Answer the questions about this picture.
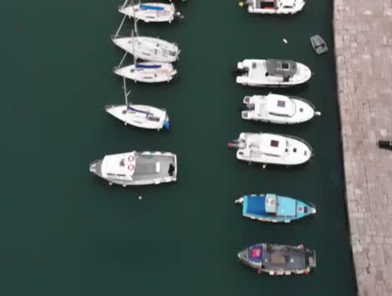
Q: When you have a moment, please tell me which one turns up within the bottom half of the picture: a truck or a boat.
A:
boat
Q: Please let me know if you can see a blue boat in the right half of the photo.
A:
Yes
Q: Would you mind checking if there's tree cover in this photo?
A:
No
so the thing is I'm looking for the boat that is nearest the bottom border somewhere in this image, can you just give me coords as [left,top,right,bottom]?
[238,240,314,280]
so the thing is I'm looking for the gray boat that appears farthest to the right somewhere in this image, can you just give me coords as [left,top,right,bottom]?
[309,35,329,57]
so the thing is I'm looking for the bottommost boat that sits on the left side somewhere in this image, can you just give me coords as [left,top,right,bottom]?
[88,141,177,191]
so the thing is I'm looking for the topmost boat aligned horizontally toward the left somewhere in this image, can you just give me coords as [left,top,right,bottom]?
[118,0,183,27]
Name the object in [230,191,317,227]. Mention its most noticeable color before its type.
blue boat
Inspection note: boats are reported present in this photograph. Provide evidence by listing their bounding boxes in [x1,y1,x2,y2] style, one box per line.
[309,35,329,57]
[242,0,307,18]
[230,191,317,227]
[242,93,324,126]
[118,0,183,27]
[228,132,313,169]
[238,240,314,280]
[235,59,313,88]
[88,141,177,191]
[114,28,185,88]
[114,0,181,64]
[105,60,174,133]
